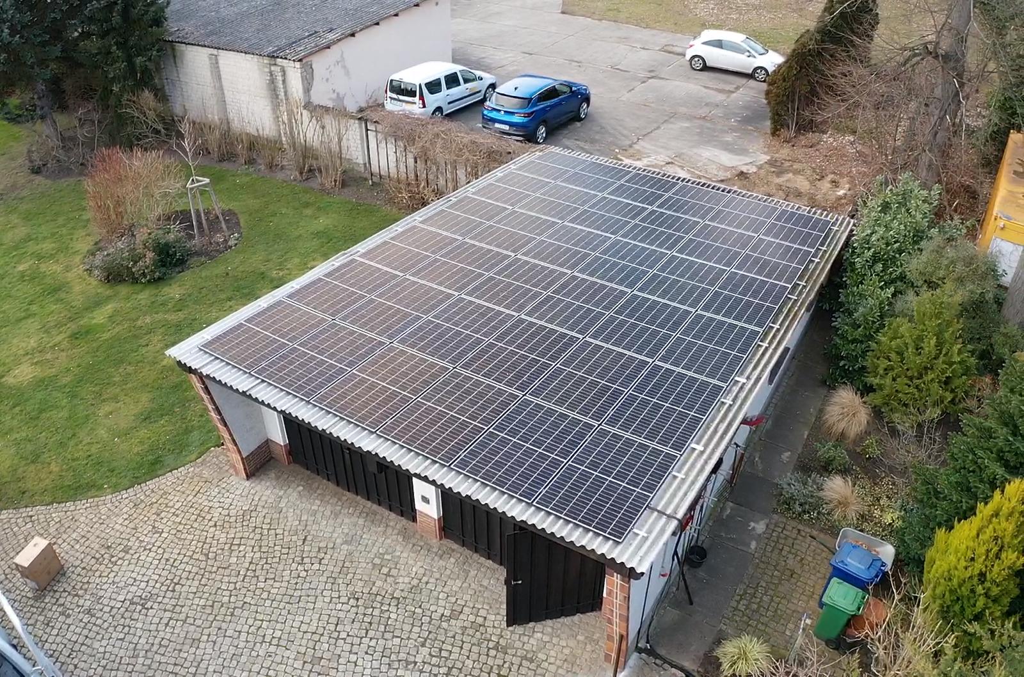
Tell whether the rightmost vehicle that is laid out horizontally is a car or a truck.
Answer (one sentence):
The rightmost vehicle that is laid out horizontally is a car.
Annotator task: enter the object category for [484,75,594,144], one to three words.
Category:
car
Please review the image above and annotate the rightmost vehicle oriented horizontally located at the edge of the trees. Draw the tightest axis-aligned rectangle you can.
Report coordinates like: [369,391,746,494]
[687,26,787,81]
